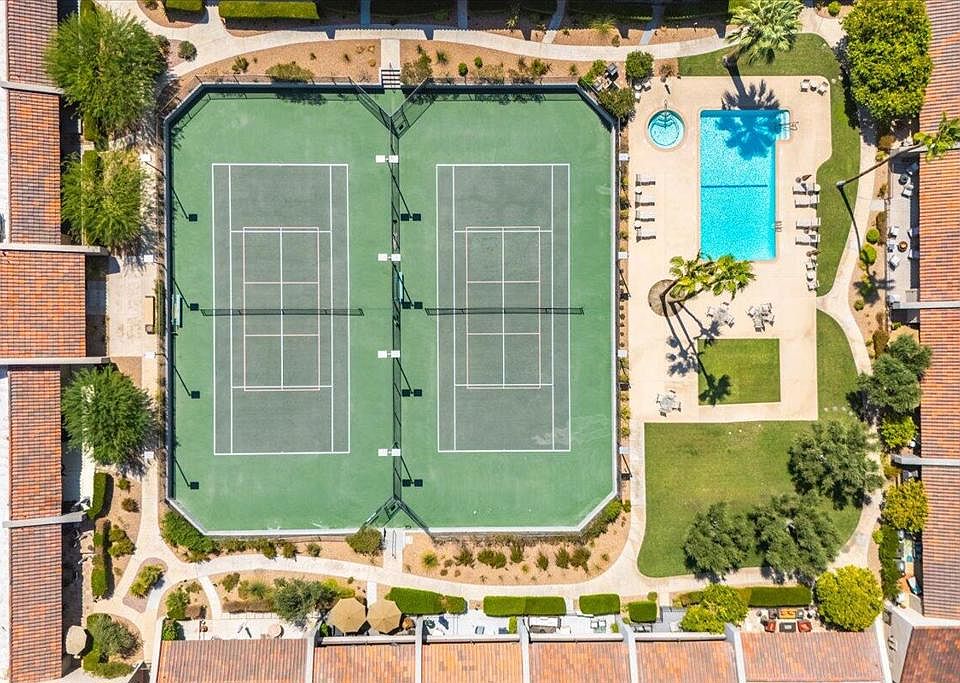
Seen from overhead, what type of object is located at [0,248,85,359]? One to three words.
house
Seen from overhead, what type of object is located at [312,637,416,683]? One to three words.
house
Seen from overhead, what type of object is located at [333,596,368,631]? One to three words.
umbrella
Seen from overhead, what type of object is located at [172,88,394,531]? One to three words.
tennis court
